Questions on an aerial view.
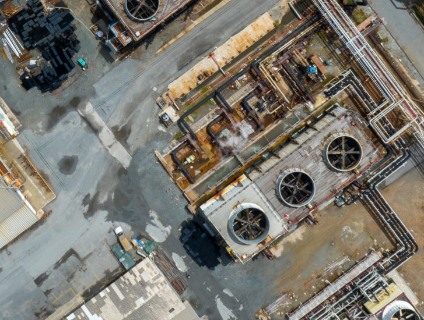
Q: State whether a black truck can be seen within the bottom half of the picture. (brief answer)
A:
No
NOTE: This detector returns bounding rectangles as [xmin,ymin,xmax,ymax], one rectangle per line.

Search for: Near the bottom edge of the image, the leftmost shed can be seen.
[64,249,186,320]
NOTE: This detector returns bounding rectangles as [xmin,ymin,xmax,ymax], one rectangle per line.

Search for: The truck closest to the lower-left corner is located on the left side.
[113,226,138,257]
